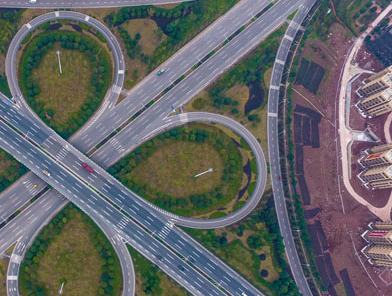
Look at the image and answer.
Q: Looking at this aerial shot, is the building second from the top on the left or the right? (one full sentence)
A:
The building second from the top sits on the right side.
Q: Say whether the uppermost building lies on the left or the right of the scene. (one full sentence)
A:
It is on the right.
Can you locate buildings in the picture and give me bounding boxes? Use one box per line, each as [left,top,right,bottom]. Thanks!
[357,144,392,190]
[354,67,392,118]
[360,219,392,268]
